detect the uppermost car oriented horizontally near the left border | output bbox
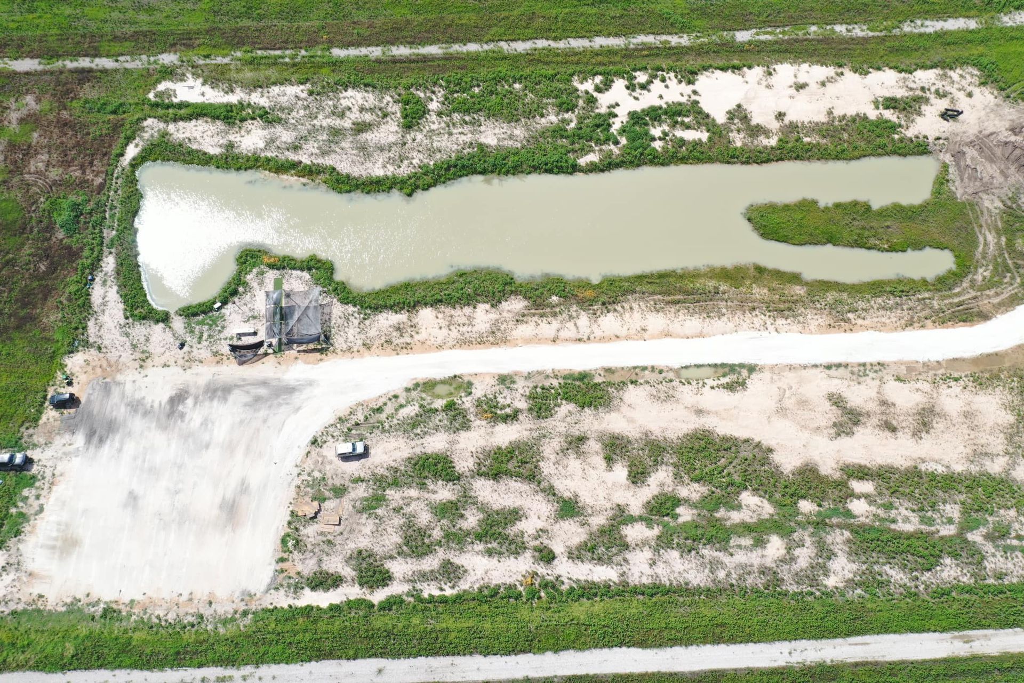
[48,396,79,412]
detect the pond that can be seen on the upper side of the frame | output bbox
[133,154,956,313]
